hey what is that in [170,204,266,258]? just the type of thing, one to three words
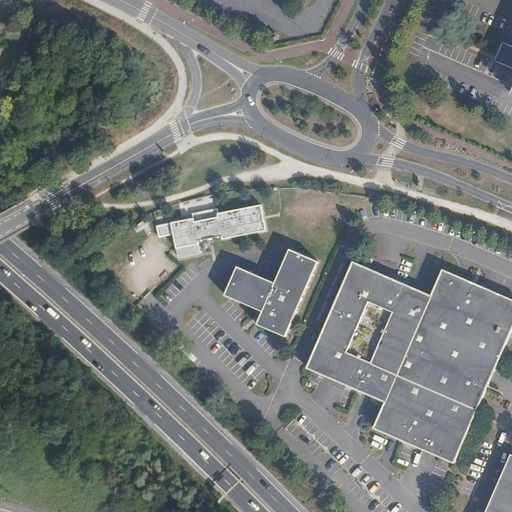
building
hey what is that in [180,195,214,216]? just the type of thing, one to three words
building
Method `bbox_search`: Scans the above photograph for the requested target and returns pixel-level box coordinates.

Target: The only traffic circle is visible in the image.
[240,66,382,167]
